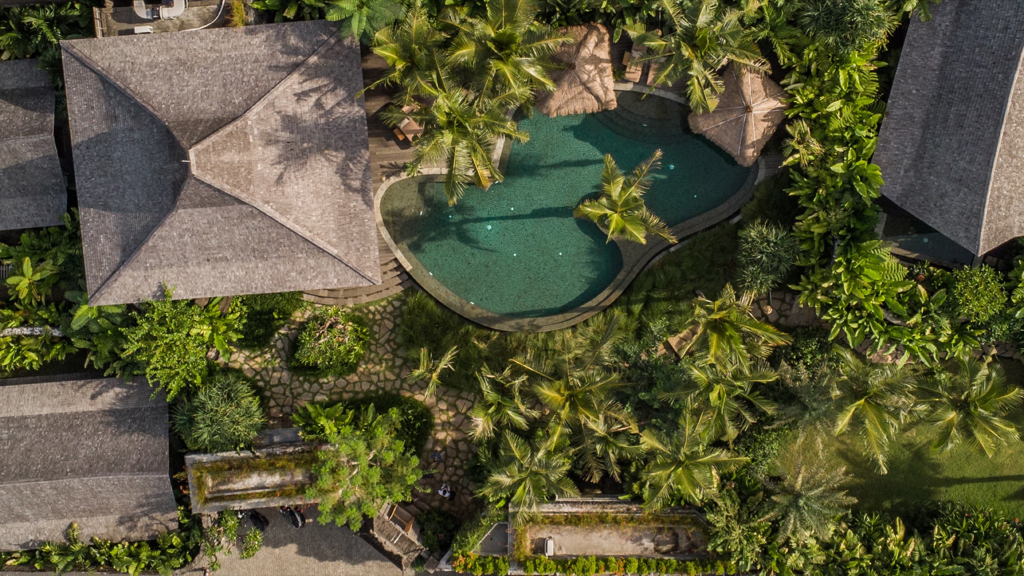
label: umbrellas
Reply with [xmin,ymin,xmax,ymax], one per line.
[688,61,789,166]
[536,22,618,119]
